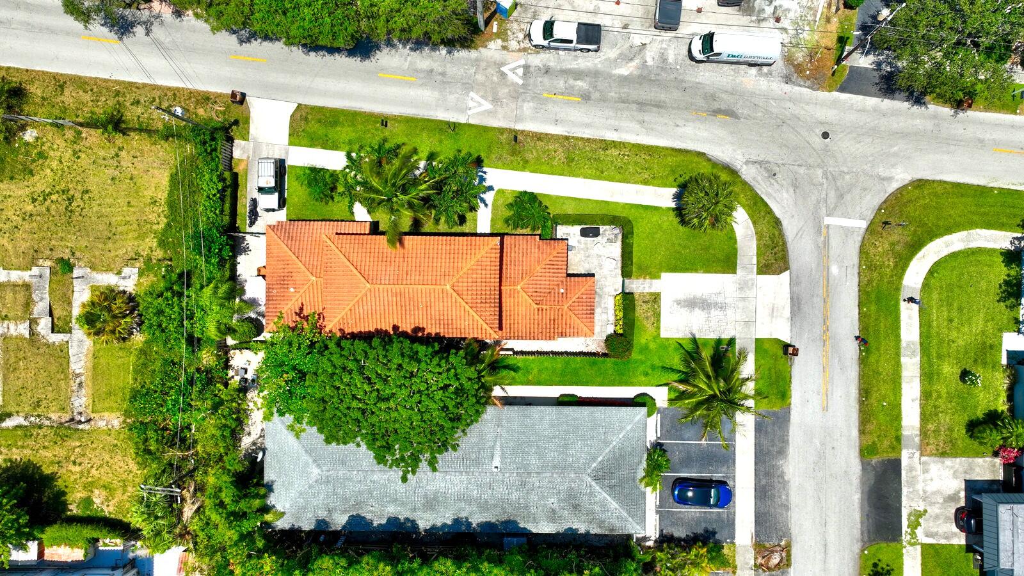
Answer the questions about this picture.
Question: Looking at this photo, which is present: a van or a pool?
van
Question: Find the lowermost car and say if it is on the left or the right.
right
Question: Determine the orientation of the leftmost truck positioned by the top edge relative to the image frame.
from side to side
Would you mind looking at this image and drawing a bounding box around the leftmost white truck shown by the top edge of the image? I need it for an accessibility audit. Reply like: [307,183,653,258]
[525,14,603,52]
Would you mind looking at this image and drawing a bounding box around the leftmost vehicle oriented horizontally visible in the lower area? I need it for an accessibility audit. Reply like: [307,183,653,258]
[671,478,733,511]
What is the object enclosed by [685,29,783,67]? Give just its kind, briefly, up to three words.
van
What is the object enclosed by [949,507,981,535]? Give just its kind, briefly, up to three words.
car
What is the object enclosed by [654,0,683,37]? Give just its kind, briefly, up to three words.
truck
